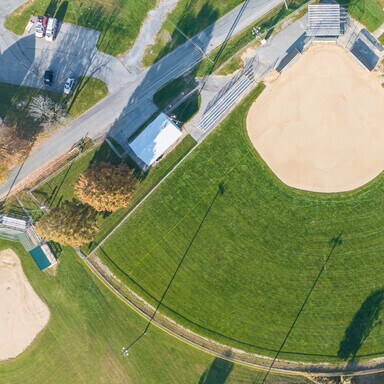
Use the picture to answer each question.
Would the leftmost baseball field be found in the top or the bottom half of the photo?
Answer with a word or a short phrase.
bottom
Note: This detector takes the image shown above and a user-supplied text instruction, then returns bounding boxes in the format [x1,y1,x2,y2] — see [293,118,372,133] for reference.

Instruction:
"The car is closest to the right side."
[62,76,75,95]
